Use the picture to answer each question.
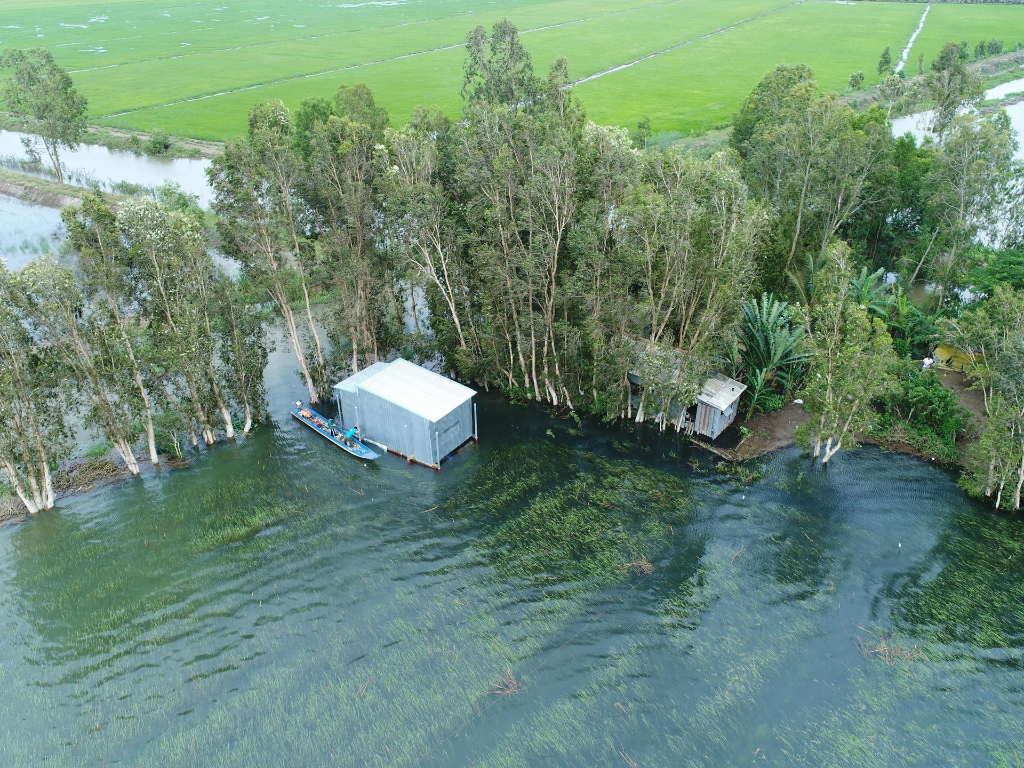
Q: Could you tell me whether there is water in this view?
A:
Yes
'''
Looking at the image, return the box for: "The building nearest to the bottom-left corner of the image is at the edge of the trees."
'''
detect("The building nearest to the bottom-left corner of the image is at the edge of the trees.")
[332,360,472,469]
